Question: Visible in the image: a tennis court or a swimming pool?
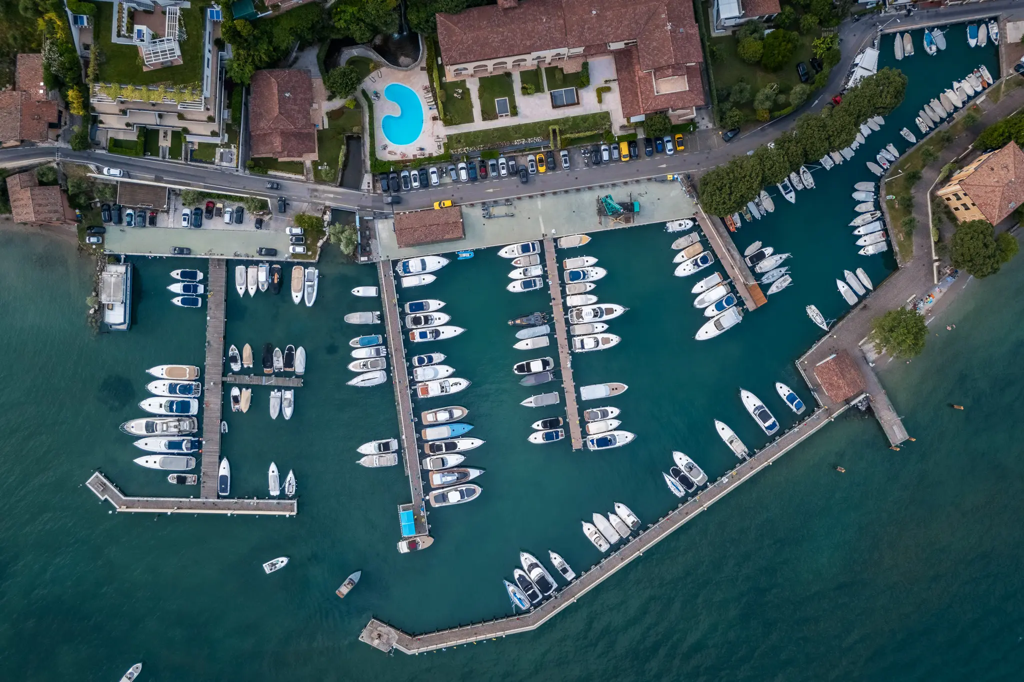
swimming pool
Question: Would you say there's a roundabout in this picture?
No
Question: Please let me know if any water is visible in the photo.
Yes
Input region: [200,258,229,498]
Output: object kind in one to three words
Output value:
pier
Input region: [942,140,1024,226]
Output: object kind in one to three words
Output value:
house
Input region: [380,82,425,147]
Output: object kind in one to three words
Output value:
swimming pool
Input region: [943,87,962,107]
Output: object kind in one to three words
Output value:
boat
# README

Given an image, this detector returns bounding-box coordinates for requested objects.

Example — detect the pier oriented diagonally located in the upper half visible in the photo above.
[694,215,767,311]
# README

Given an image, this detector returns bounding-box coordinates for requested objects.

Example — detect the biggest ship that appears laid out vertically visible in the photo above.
[100,249,136,331]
